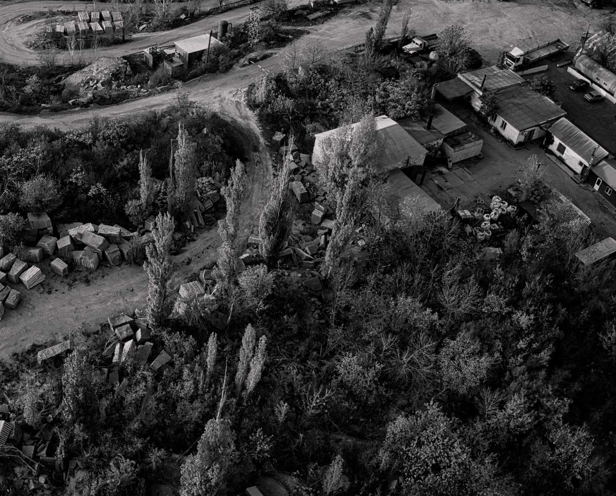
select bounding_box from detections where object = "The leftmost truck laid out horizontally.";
[403,28,450,52]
